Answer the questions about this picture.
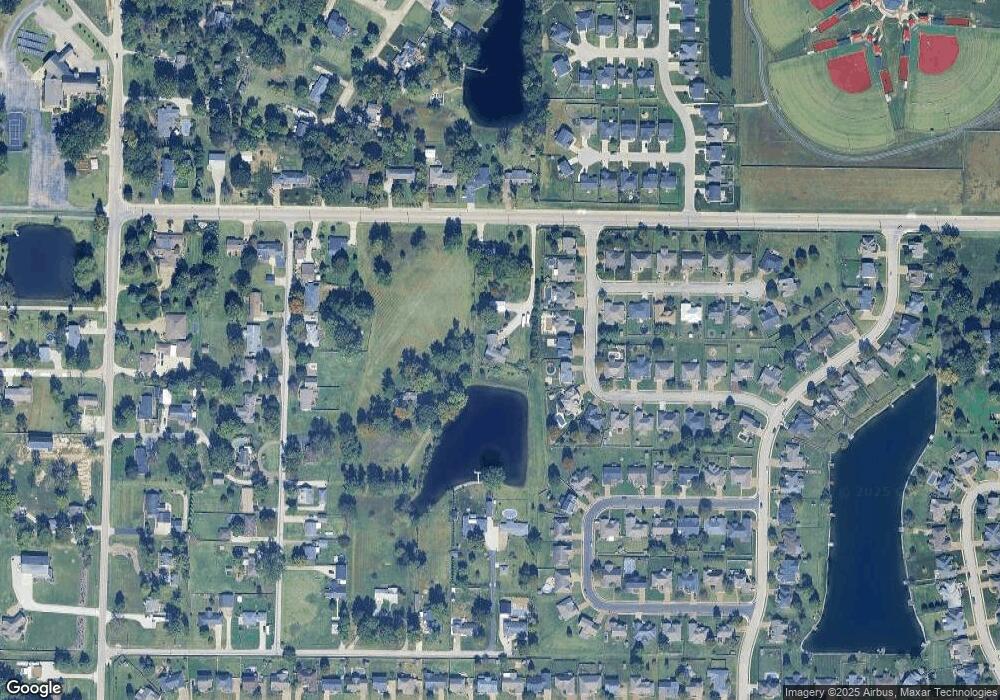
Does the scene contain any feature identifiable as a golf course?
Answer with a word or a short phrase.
No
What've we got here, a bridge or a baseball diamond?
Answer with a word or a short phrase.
baseball diamond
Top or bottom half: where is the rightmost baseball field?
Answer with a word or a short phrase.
top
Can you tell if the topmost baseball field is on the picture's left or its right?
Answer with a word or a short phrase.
right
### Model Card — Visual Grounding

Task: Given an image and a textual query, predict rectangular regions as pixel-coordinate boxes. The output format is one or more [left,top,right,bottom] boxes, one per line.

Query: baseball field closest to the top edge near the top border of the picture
[750,0,843,52]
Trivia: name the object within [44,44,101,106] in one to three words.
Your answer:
building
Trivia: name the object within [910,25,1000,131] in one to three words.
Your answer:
baseball field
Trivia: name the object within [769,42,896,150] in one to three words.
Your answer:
baseball field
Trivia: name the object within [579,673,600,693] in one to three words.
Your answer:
house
